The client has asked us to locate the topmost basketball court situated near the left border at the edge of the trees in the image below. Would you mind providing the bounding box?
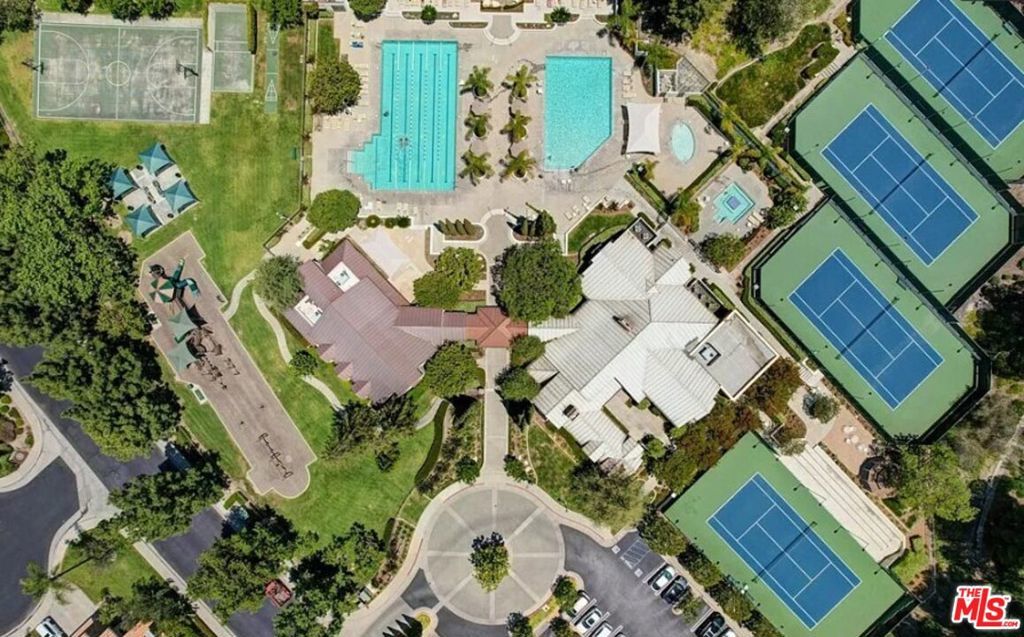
[35,23,201,123]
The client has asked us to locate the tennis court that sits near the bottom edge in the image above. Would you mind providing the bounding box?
[671,438,905,637]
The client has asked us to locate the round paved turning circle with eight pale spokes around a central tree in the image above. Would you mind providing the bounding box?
[422,483,566,625]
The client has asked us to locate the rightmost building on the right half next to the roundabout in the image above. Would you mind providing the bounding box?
[528,230,720,476]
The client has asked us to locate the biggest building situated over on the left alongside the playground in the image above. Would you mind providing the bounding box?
[282,238,436,405]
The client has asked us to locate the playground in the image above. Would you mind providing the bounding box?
[136,231,317,499]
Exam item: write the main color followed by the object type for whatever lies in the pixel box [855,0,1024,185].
blue tennis court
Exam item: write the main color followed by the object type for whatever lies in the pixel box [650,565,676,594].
white car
